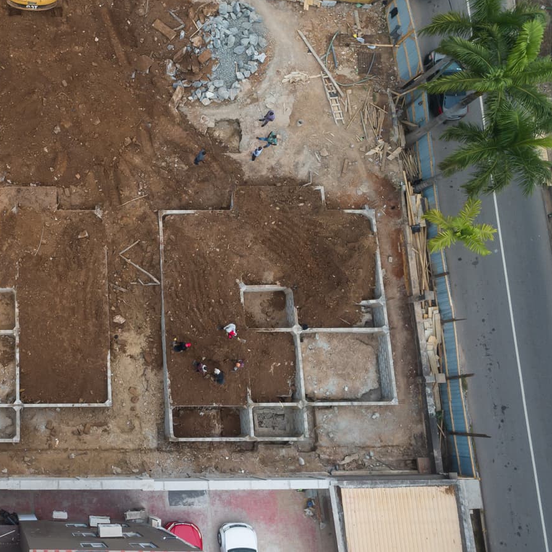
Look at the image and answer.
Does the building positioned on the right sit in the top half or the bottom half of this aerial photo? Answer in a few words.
bottom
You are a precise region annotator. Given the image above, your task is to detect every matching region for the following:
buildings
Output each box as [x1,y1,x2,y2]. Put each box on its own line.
[20,521,206,552]
[323,478,485,552]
